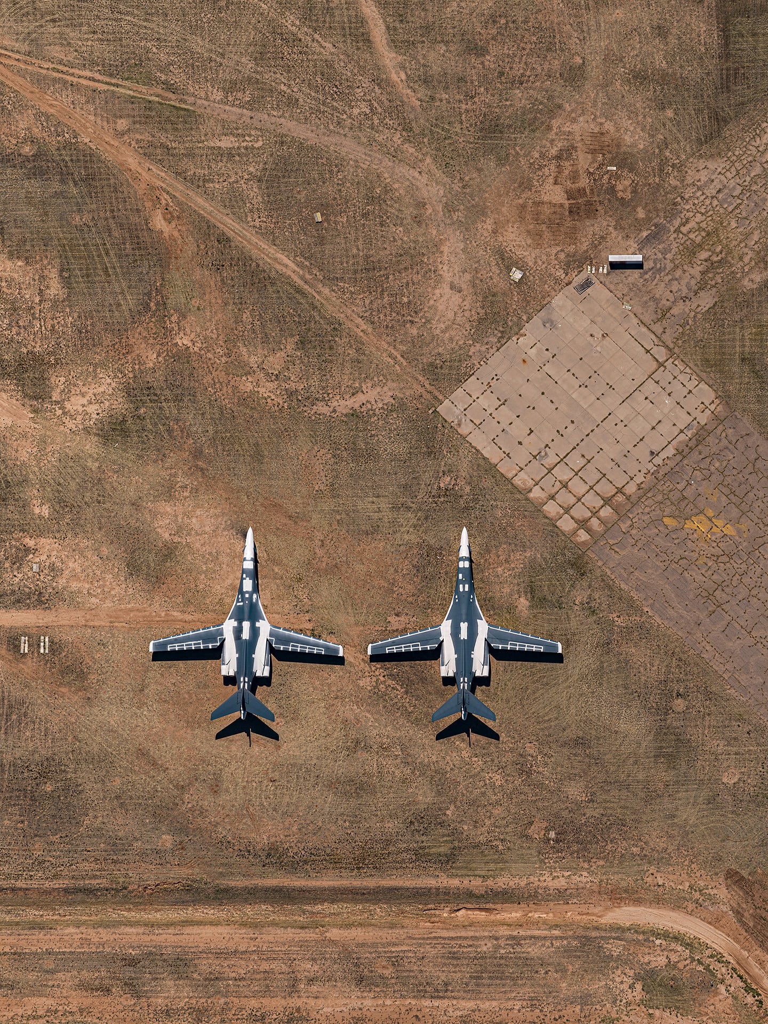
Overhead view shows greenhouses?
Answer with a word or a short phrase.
No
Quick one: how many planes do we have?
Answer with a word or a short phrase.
2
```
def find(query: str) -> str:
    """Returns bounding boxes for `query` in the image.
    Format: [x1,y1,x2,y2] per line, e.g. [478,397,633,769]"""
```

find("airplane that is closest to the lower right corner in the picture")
[368,527,563,722]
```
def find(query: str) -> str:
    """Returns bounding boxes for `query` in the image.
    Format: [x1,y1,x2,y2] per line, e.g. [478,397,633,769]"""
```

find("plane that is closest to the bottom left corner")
[149,527,344,723]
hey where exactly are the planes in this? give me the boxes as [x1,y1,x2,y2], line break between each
[149,527,344,723]
[368,527,563,722]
